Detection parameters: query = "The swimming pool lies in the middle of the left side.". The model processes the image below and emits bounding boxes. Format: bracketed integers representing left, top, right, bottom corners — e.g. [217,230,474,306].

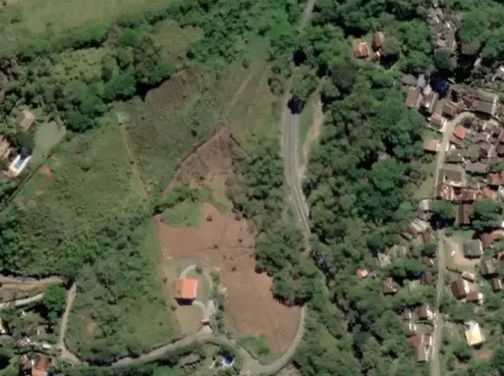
[13,154,30,174]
